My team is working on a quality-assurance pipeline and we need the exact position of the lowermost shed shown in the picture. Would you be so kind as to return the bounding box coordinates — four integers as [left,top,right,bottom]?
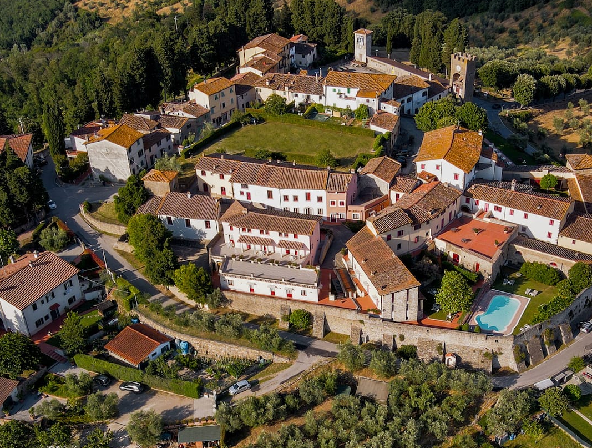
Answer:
[178,425,220,448]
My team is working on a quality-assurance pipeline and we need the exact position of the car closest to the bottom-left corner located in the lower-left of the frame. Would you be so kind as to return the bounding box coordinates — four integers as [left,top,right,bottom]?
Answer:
[89,369,113,386]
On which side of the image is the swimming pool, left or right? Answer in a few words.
right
